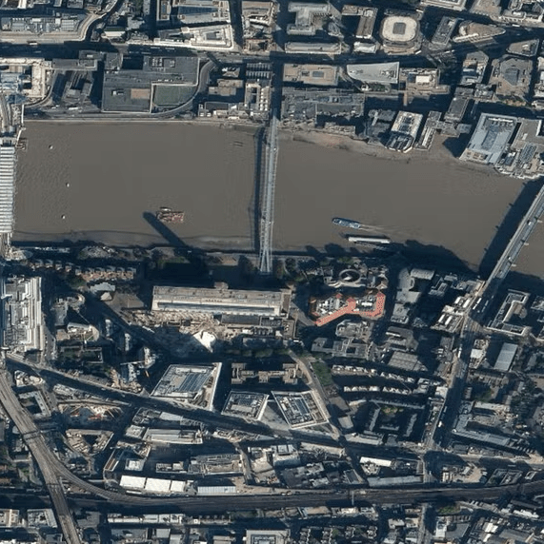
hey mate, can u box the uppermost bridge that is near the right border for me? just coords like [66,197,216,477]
[481,181,544,288]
